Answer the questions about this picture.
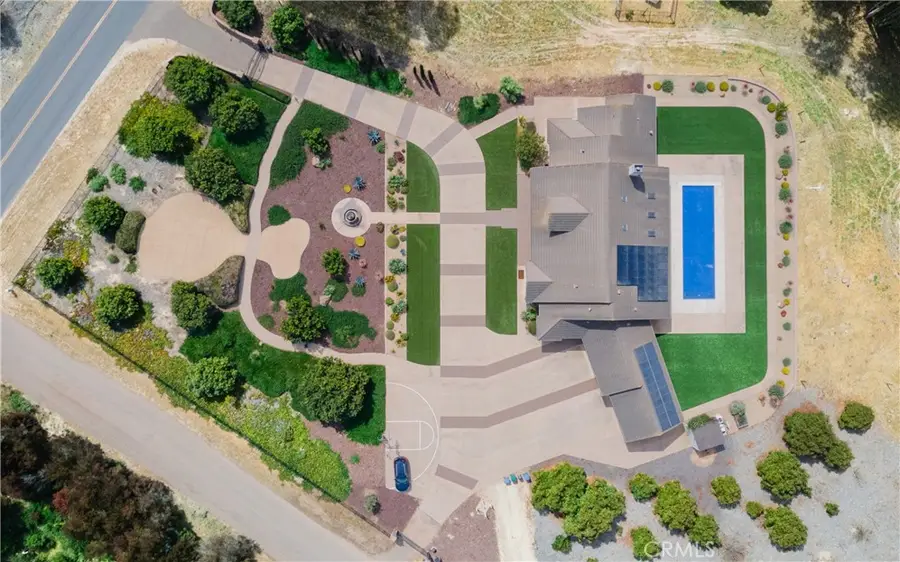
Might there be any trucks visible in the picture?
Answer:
No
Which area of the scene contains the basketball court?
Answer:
bottom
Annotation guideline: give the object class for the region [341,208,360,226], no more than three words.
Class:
fountain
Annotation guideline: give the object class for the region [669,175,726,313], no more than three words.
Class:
swimming pool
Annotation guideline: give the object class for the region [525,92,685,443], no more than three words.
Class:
house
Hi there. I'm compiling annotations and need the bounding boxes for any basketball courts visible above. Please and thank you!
[387,380,439,493]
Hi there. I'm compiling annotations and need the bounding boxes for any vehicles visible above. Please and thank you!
[394,456,410,492]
